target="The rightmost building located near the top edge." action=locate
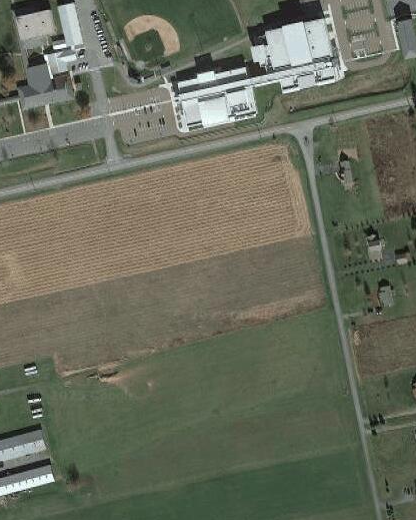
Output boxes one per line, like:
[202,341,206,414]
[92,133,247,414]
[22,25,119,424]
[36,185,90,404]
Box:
[397,19,416,60]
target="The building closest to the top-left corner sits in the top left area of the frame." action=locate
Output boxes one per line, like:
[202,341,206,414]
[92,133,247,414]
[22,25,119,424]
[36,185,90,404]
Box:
[15,9,57,40]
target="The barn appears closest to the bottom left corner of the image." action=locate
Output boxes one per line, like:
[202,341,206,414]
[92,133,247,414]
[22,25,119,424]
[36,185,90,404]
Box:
[0,464,55,497]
